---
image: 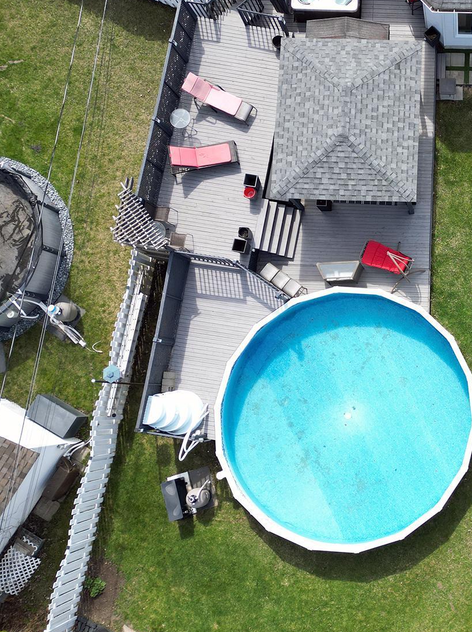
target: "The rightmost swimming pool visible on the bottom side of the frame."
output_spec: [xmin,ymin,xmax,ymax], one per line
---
[214,286,472,554]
